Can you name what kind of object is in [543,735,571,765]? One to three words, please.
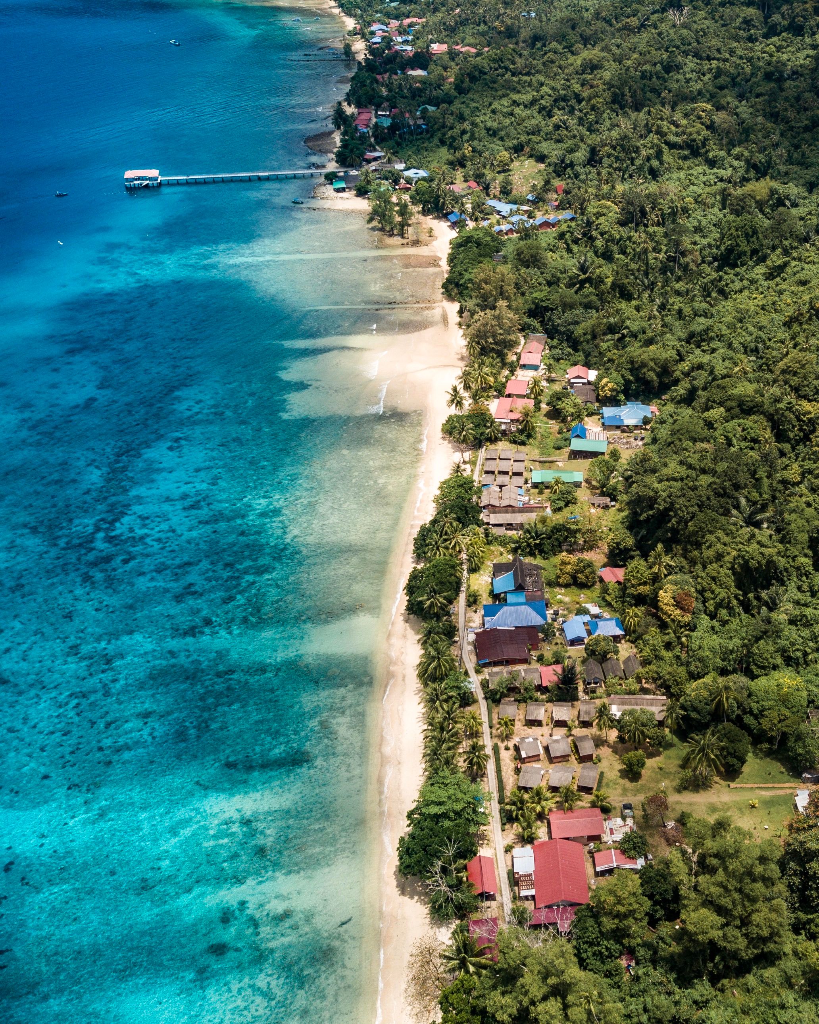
house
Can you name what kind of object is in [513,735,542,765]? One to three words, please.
house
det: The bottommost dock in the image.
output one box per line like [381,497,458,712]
[160,168,334,185]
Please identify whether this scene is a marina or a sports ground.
marina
